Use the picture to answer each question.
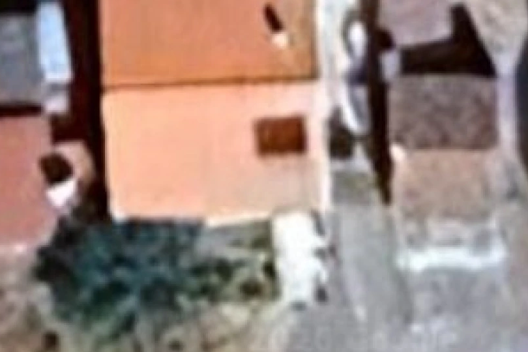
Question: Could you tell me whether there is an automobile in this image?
Yes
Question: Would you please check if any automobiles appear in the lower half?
No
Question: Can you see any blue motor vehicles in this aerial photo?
No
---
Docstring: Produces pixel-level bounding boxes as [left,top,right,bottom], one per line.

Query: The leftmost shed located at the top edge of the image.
[0,13,44,107]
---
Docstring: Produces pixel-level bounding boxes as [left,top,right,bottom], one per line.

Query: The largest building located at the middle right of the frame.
[390,73,499,226]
